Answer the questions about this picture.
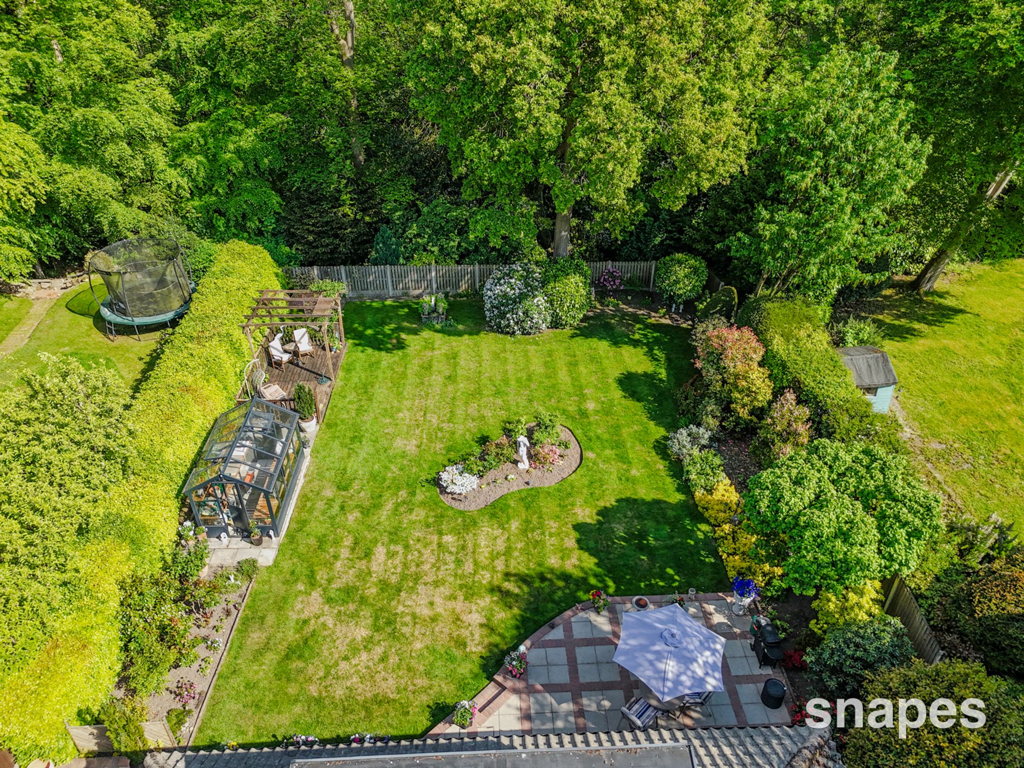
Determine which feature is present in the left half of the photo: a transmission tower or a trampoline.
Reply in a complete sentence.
Looking in the left half of the photo, you will find a trampoline.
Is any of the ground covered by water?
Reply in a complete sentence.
No, water can't be seen anywhere here.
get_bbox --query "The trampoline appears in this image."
[82,239,197,346]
